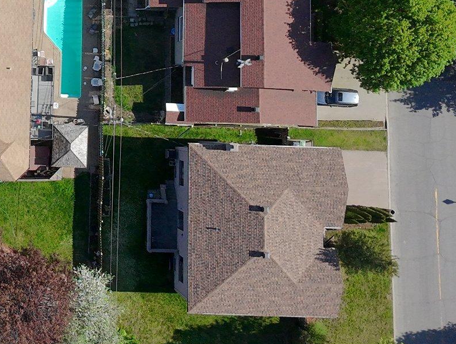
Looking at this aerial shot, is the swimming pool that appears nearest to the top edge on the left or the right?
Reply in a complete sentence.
The swimming pool that appears nearest to the top edge sits on the left side.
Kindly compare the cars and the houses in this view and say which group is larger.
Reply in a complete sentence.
Fewer cars than houses are visible.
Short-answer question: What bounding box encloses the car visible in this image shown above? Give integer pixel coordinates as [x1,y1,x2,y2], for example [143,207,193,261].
[318,89,359,109]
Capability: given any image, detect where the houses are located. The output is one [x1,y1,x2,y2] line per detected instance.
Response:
[0,0,33,182]
[146,0,338,128]
[176,143,349,318]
